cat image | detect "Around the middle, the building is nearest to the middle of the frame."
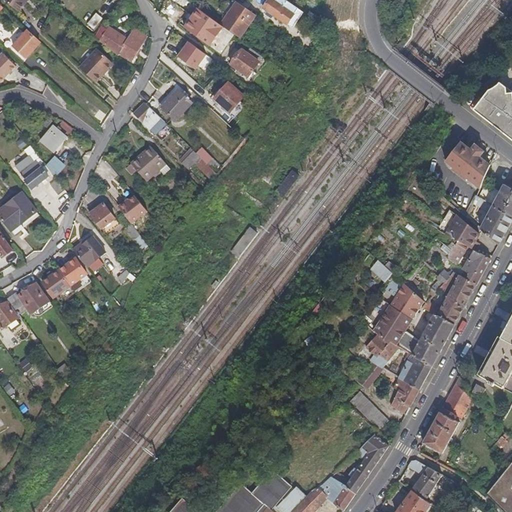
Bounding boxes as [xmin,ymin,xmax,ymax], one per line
[232,227,258,256]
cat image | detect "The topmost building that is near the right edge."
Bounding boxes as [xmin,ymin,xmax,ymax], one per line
[473,82,512,140]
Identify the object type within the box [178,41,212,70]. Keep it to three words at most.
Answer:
house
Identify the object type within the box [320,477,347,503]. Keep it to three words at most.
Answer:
building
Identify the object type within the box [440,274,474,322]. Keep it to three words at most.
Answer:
house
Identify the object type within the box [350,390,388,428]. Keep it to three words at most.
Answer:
building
